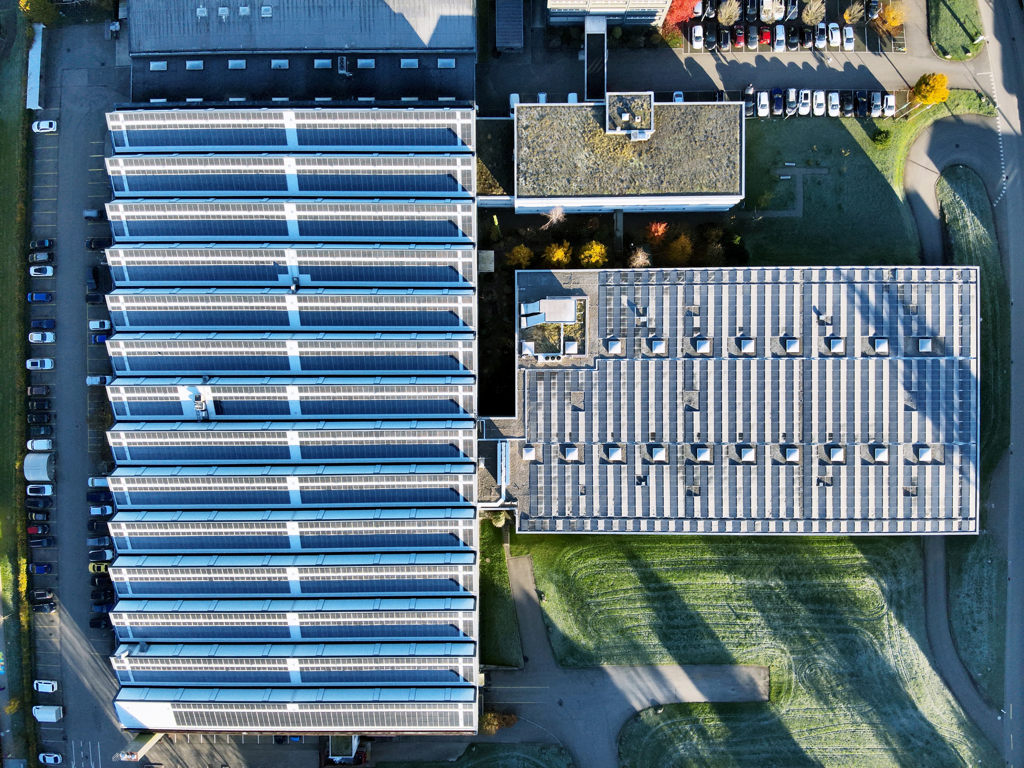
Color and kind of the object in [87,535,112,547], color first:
blue vehicle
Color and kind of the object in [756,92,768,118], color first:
white vehicle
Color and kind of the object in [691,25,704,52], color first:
white vehicle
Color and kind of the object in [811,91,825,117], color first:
white car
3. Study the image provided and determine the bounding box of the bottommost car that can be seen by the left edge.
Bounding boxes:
[40,751,65,764]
